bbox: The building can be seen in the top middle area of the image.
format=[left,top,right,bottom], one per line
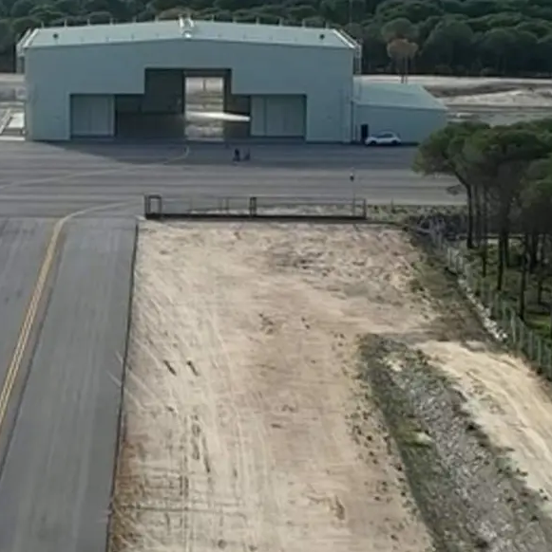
[15,11,452,141]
